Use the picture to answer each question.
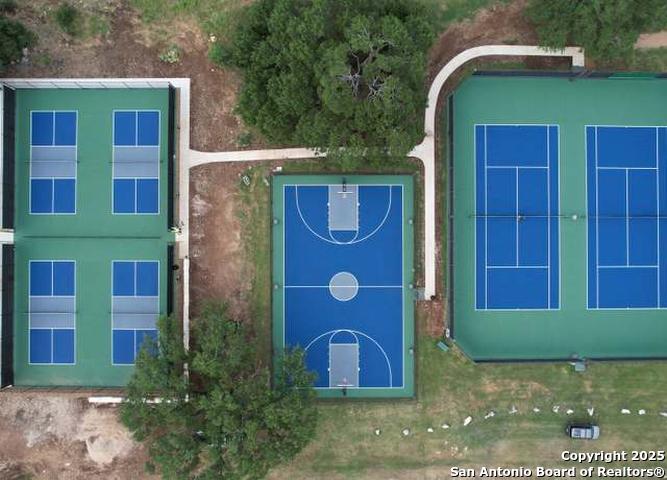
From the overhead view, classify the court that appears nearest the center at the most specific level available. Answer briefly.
basketball court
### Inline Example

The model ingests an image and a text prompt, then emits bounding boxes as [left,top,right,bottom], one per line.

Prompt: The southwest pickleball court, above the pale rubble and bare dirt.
[29,261,76,365]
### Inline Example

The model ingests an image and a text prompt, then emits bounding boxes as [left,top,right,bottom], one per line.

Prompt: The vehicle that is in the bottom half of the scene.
[565,422,599,440]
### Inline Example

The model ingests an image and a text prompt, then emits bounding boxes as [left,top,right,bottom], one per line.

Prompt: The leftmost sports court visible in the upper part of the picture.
[29,111,77,214]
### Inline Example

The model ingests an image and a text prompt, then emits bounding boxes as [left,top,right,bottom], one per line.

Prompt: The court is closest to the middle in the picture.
[272,174,415,398]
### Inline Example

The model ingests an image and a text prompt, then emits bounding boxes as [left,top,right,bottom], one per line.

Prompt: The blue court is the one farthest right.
[584,126,667,309]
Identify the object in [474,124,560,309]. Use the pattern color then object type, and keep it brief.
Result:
blue tennis court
